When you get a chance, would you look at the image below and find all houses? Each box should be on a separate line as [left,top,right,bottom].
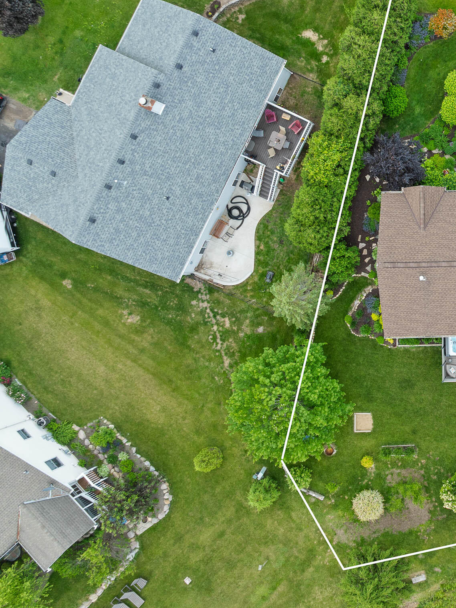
[377,186,456,340]
[0,388,106,575]
[0,0,294,285]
